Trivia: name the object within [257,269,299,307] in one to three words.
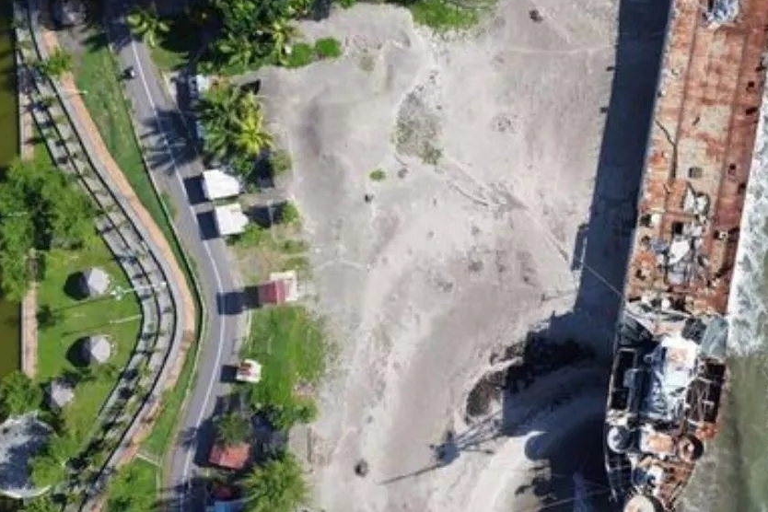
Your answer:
shed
